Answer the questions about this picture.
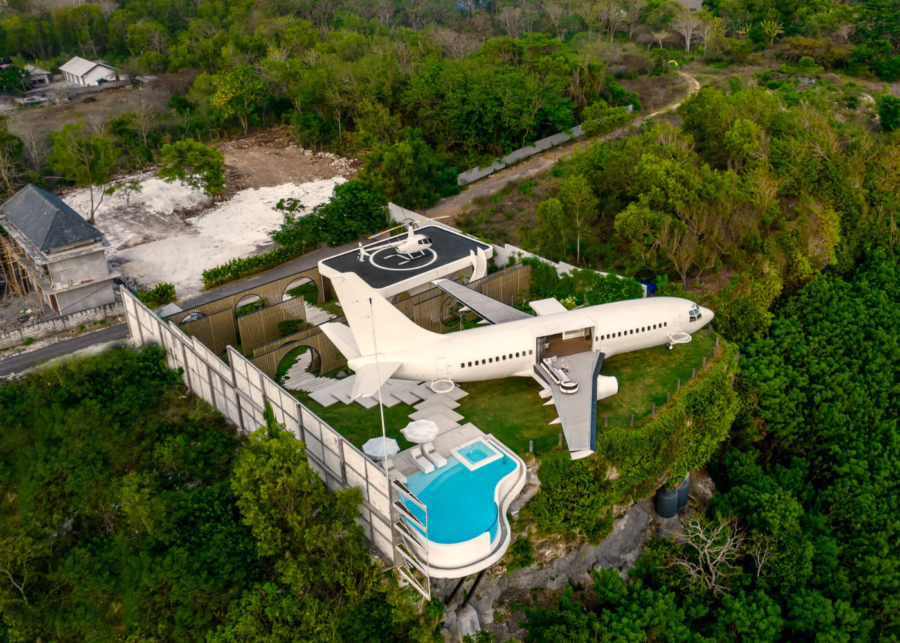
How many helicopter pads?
1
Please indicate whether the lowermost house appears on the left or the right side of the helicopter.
to the left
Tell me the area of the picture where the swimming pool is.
bottom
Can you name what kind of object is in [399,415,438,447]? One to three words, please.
umbrella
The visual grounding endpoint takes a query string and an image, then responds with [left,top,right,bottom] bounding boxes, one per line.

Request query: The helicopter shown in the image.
[356,217,449,264]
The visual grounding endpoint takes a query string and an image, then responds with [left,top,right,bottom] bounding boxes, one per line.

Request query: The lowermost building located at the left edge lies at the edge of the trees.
[0,187,121,314]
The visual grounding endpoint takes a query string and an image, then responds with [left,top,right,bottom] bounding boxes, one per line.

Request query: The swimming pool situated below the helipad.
[398,435,527,603]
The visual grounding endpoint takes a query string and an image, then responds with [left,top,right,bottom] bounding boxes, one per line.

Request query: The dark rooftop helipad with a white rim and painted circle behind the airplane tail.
[323,225,489,314]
